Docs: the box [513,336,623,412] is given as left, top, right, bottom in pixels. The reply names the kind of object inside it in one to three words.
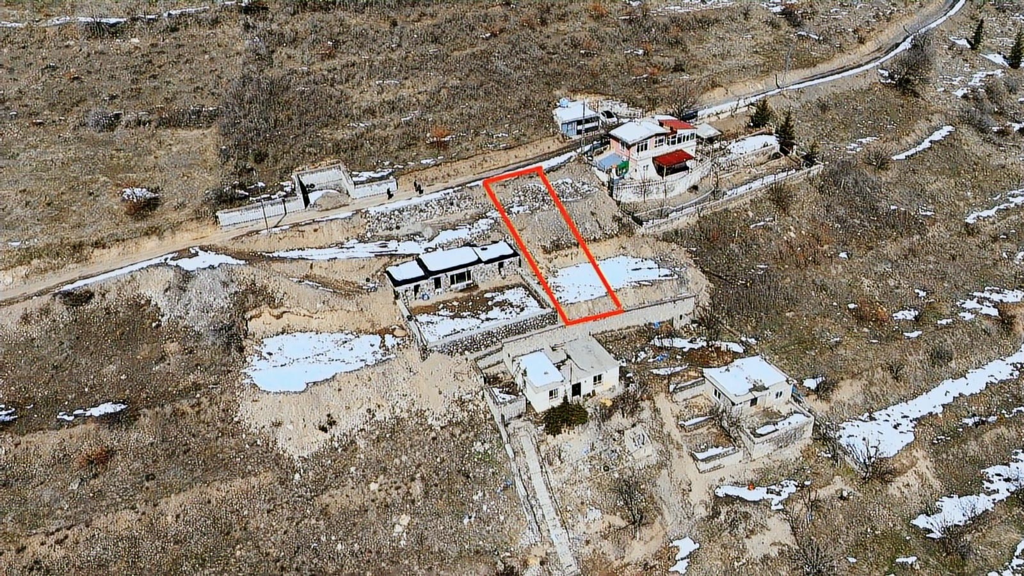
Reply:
house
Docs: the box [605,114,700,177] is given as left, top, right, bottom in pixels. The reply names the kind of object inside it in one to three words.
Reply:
house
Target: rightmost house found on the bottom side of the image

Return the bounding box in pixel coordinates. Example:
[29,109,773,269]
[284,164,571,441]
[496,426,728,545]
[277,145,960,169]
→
[702,354,794,418]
